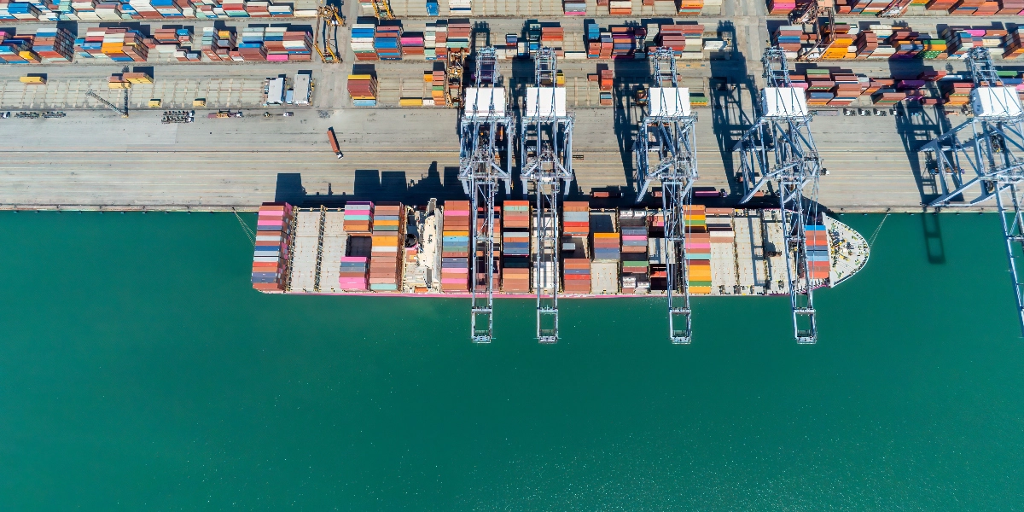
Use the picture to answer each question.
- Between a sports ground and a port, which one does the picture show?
port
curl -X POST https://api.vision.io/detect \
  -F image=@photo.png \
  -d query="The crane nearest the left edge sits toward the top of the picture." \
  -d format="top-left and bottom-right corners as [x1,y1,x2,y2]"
[312,3,345,64]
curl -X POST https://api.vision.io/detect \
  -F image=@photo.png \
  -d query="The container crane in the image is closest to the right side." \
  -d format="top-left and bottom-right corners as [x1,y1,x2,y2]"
[917,42,1024,347]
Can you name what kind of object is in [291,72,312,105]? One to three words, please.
shed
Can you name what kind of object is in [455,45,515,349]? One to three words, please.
container crane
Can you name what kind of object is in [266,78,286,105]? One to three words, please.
shed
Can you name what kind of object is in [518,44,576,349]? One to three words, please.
container crane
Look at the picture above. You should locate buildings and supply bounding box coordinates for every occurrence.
[291,72,312,105]
[266,78,286,105]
